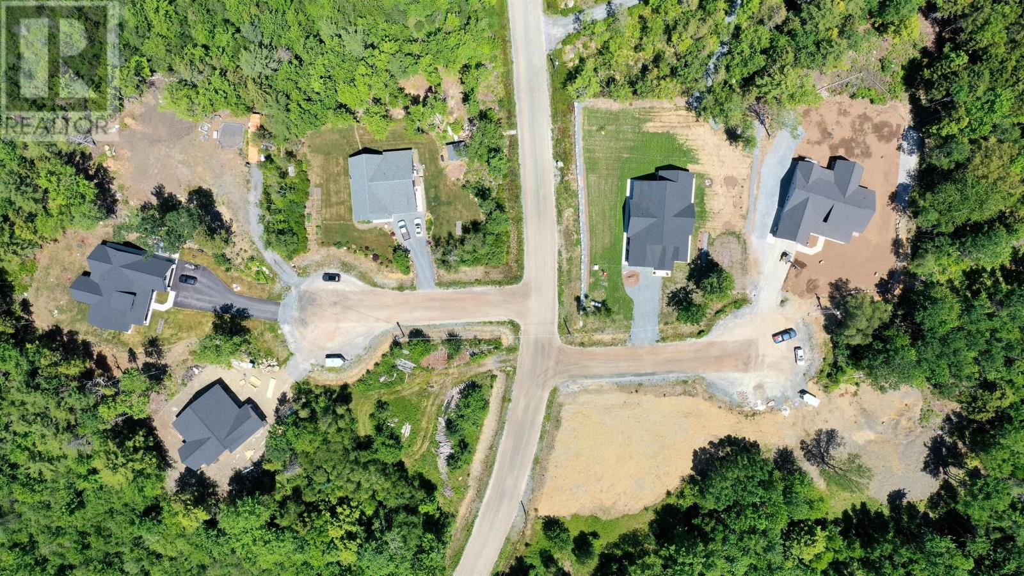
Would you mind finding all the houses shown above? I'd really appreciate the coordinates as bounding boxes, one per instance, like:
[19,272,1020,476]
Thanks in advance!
[174,384,265,469]
[627,170,696,275]
[70,244,176,332]
[348,150,416,223]
[773,159,875,247]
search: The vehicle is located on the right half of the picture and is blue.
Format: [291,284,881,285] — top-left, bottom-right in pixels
[772,329,797,344]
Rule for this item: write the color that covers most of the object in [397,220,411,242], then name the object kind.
white vehicle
